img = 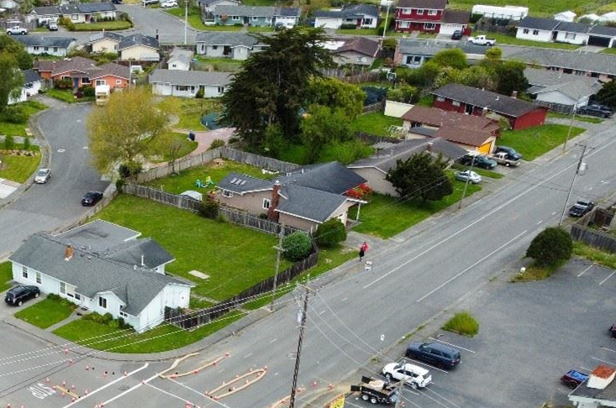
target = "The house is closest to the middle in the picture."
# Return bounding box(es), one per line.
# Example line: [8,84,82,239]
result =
[215,163,364,239]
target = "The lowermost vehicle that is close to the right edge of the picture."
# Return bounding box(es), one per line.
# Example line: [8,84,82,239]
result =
[557,365,590,386]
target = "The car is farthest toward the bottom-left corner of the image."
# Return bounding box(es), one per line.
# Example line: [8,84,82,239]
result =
[1,283,42,305]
